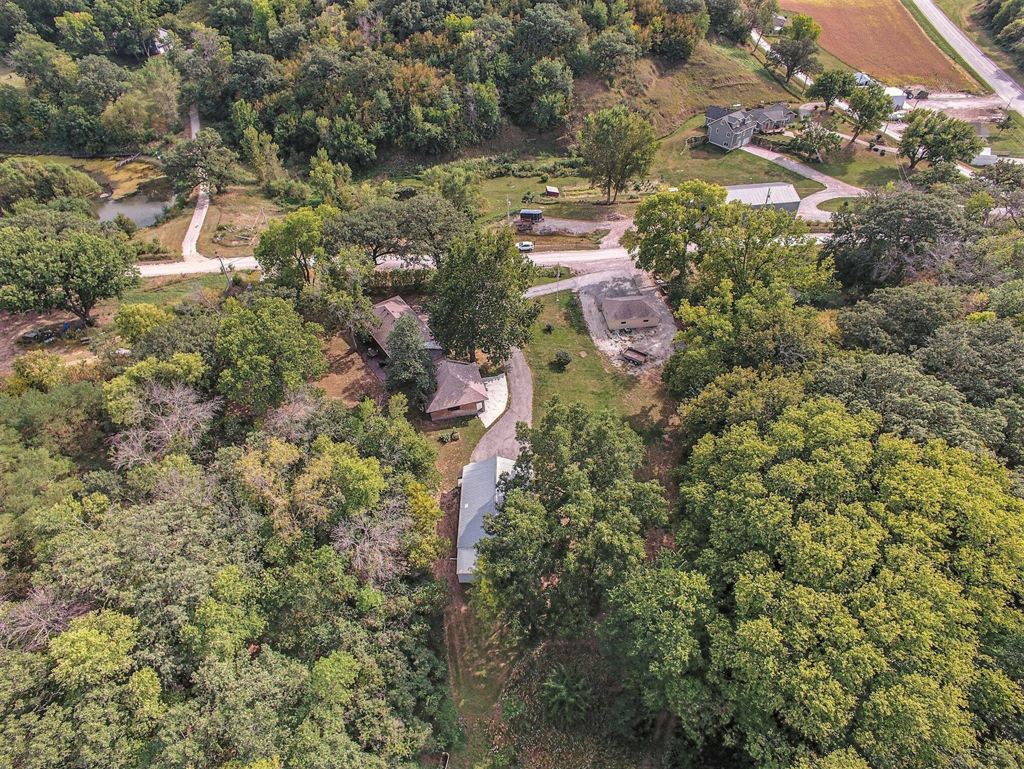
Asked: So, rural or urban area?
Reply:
rural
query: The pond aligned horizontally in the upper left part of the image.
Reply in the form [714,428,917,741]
[0,155,178,229]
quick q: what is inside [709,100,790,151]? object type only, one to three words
house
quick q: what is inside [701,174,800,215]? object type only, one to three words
barn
